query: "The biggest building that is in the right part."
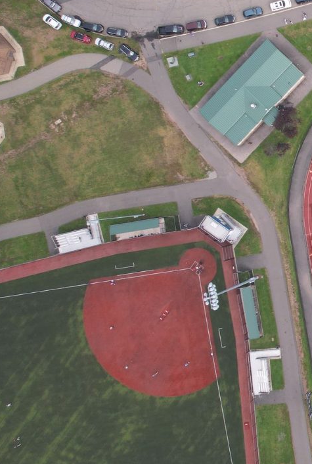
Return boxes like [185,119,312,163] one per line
[198,39,305,146]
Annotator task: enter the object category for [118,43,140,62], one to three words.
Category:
car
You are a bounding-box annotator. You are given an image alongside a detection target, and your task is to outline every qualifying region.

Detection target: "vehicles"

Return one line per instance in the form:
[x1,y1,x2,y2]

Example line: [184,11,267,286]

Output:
[82,21,105,34]
[243,7,264,19]
[106,26,129,38]
[118,43,140,62]
[70,29,92,44]
[60,12,82,29]
[270,0,291,11]
[215,14,236,26]
[186,20,208,31]
[158,24,185,35]
[42,13,64,31]
[94,37,116,51]
[42,0,65,14]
